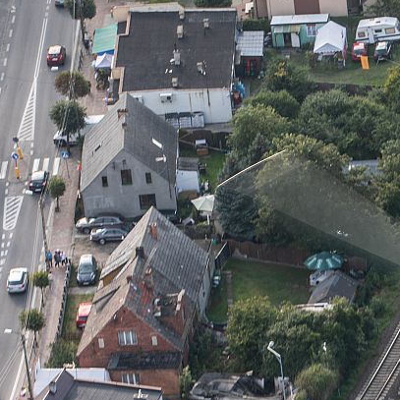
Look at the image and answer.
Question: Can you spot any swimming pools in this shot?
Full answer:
No, no swimming pool is visible in the view.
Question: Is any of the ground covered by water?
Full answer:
No, there is no water in the image.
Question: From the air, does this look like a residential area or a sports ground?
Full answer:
This looks like a residential area.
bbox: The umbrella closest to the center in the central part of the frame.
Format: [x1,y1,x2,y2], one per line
[189,195,220,211]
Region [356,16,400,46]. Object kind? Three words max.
camper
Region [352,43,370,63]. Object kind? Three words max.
car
